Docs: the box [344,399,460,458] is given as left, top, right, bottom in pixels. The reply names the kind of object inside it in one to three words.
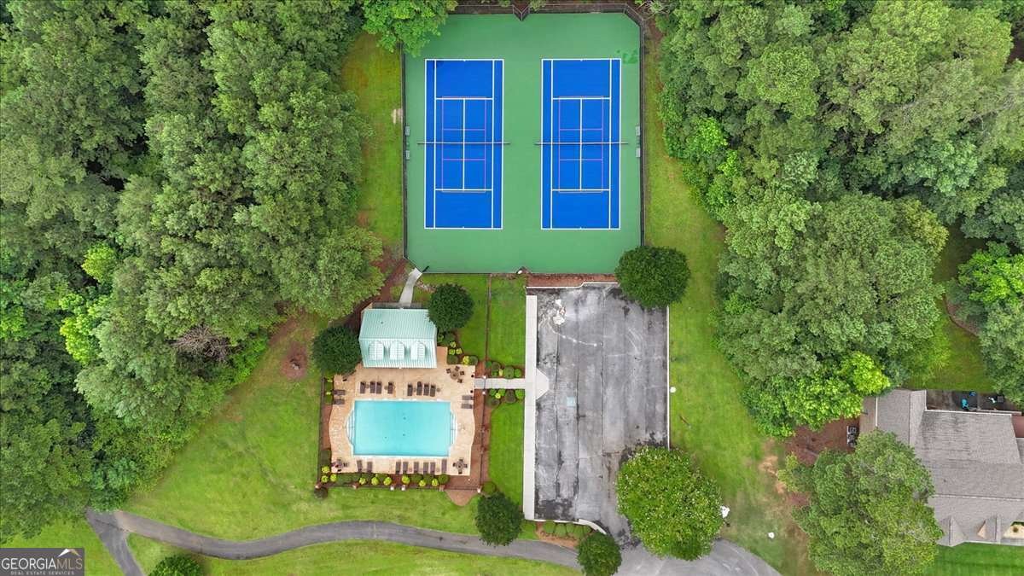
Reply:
swimming pool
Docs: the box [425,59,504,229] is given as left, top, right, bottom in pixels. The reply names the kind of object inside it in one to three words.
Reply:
tennis court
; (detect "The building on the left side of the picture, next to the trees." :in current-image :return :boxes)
[356,308,439,368]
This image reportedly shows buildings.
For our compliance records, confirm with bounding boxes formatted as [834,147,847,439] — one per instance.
[863,388,1024,553]
[356,308,439,368]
